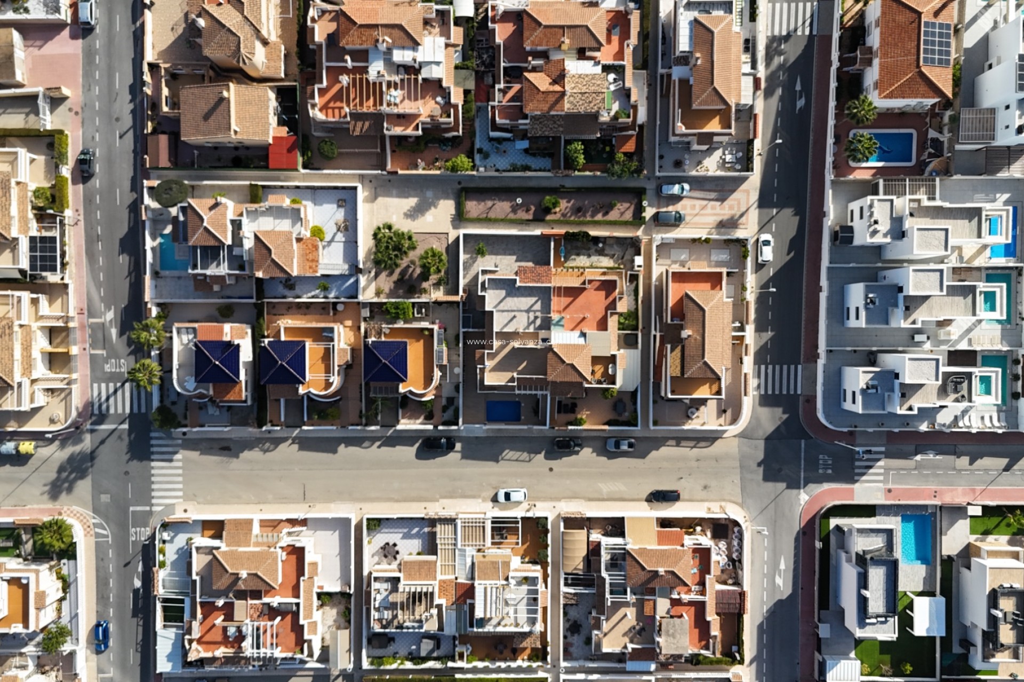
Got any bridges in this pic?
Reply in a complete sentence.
No, the frame has no bridge in it.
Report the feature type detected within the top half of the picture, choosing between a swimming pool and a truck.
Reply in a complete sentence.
It is a swimming pool that can be seen within the top half of the picture.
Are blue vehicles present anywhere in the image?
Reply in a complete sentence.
Yes, I can see a blue vehicle in this picture.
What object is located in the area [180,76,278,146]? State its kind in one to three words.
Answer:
house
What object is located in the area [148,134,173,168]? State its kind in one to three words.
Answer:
shed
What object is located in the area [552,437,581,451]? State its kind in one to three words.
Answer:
car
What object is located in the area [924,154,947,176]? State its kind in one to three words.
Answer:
gazebo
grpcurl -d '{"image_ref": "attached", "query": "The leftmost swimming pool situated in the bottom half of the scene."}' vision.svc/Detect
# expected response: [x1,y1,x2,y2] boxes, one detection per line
[485,400,522,423]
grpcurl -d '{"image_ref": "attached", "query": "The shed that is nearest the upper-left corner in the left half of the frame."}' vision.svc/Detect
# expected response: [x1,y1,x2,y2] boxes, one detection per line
[0,27,28,87]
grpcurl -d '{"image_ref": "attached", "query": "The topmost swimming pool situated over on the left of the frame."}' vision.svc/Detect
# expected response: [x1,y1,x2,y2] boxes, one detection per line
[157,231,189,273]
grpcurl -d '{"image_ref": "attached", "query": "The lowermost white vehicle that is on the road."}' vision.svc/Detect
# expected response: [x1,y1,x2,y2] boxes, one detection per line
[498,488,527,502]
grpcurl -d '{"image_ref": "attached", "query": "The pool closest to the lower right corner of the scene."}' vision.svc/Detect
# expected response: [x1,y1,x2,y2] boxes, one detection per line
[899,513,932,565]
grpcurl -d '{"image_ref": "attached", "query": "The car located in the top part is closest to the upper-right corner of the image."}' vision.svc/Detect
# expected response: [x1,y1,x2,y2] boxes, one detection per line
[757,234,773,264]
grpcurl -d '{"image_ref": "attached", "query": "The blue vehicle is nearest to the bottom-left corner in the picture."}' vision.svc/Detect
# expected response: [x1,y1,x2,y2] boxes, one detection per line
[94,619,111,651]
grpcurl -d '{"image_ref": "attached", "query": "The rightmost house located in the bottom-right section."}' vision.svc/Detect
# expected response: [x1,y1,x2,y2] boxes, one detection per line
[948,537,1024,668]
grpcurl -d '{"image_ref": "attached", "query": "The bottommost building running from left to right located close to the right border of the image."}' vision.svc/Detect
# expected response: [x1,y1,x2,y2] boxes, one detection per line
[842,355,1001,414]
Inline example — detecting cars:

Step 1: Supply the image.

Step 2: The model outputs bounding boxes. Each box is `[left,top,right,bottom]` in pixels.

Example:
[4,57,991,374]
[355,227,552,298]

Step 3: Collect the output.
[498,488,527,502]
[79,0,96,30]
[757,234,773,264]
[423,436,456,451]
[552,437,581,451]
[79,149,95,177]
[605,437,636,451]
[94,619,111,651]
[651,488,681,503]
[659,182,689,197]
[186,676,215,682]
[654,209,685,225]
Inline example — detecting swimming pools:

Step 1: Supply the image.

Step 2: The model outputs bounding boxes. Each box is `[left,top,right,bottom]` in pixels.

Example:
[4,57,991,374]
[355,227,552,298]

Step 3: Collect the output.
[899,513,932,565]
[157,231,189,273]
[977,352,1012,410]
[982,270,1016,329]
[988,205,1020,261]
[849,128,917,166]
[485,400,522,423]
